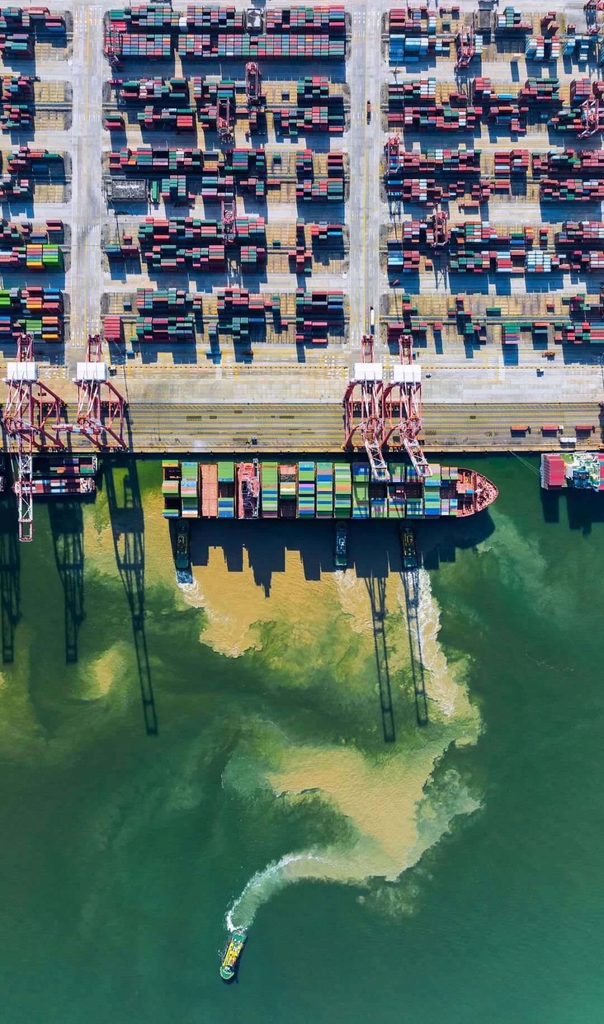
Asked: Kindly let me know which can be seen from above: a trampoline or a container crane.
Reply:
container crane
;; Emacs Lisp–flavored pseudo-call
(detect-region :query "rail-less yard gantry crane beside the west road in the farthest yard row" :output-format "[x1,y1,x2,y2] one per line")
[101,21,123,73]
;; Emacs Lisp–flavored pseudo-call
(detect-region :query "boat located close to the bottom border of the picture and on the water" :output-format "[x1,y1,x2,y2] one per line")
[220,930,245,982]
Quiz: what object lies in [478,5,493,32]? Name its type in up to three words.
shed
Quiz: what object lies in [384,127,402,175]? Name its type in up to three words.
crane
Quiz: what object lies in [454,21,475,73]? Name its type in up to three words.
crane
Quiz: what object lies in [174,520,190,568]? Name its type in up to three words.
boat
